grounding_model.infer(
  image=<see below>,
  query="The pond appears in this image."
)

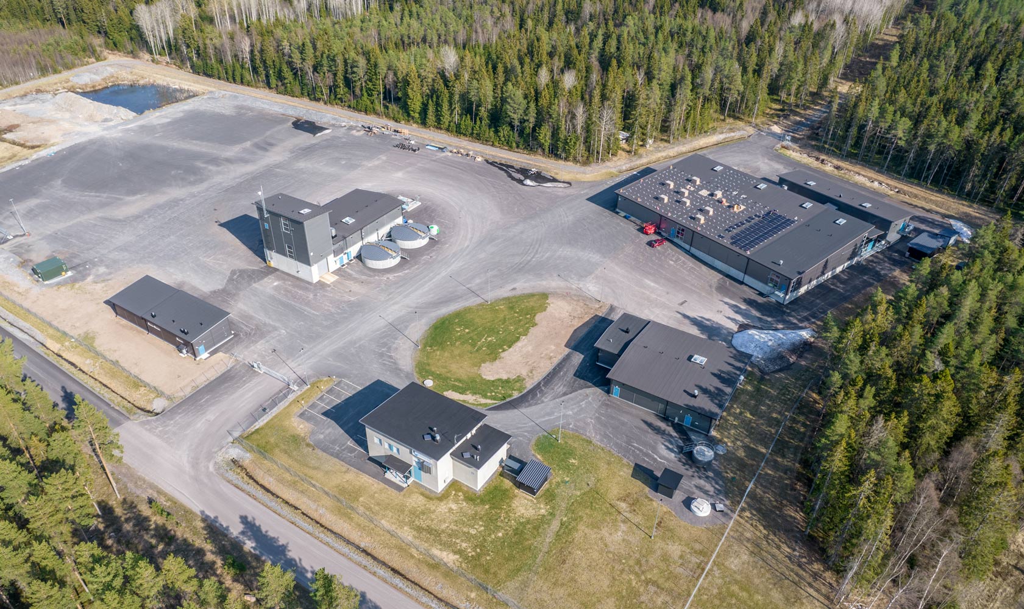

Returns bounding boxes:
[82,83,198,114]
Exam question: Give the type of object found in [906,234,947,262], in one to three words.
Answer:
shed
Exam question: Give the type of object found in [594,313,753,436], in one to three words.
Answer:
building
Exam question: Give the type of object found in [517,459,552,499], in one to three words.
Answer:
shed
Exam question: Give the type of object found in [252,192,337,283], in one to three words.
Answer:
building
